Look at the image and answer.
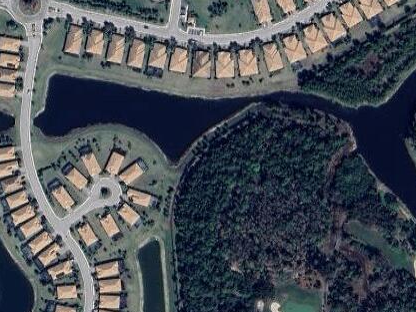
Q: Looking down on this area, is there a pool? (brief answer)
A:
No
